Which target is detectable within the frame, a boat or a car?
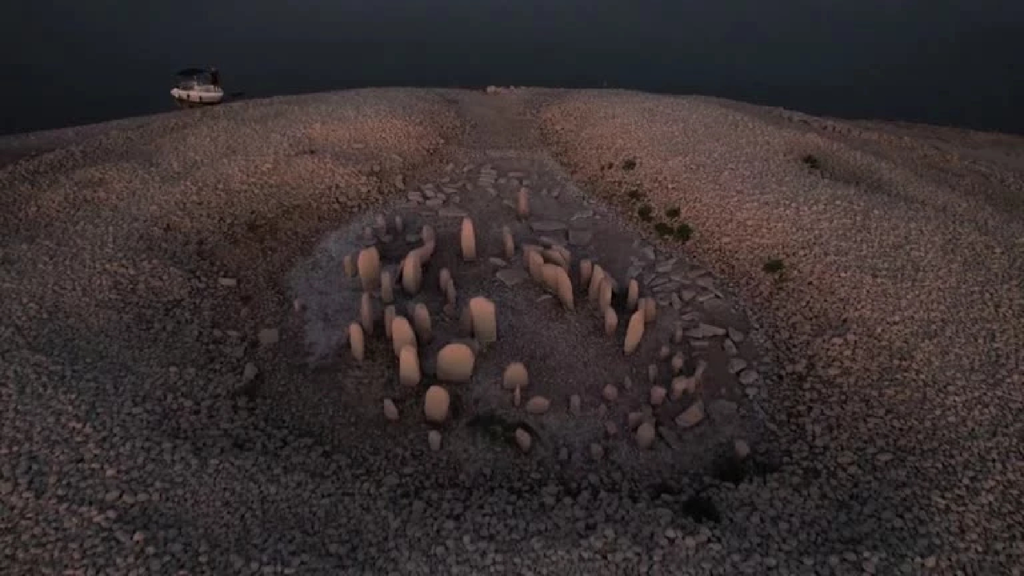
boat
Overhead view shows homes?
No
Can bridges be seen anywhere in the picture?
No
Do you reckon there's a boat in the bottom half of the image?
No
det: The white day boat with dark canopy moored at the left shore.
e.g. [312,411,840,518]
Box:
[167,70,228,105]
